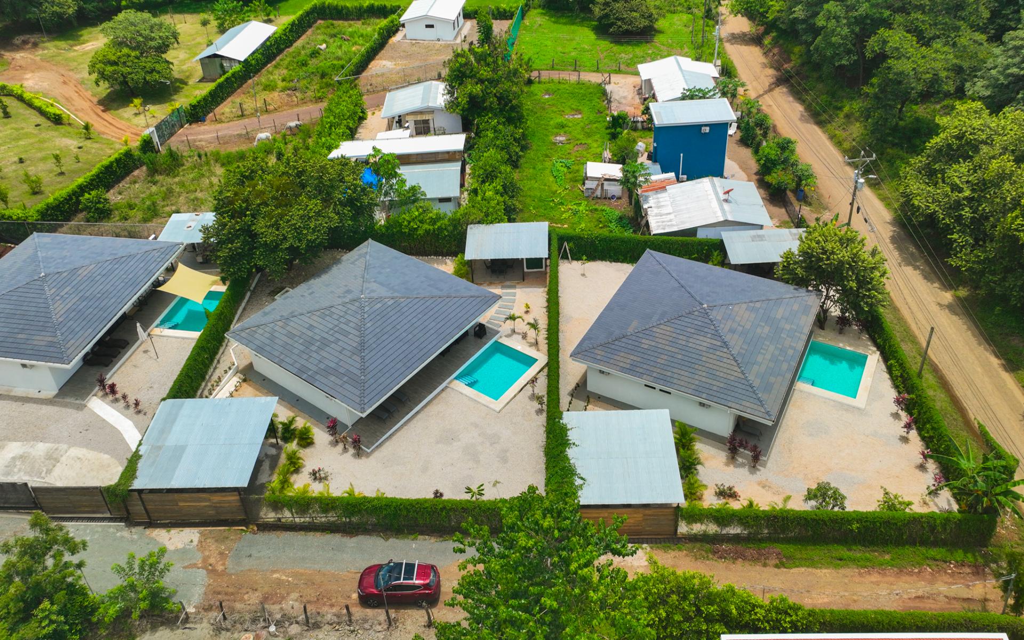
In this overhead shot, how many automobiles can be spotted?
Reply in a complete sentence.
The picture shows 1 automobile.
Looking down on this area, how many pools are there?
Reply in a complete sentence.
Looking from above, you can make out 3 pools.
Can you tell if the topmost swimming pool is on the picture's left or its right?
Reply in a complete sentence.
The topmost swimming pool is on the left side of the image.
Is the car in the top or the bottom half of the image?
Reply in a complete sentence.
Seen from above, the car lies in the bottom half of the view.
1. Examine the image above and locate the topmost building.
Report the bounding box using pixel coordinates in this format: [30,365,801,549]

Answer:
[399,0,465,38]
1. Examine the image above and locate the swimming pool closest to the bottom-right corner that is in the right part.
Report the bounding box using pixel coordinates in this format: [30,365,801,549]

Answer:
[798,334,878,408]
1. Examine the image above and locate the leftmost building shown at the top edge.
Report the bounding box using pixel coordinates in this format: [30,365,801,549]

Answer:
[193,20,278,81]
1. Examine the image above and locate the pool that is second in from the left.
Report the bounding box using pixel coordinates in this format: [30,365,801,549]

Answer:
[446,336,548,411]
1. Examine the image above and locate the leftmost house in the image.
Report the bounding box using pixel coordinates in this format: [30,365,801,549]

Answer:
[0,228,183,403]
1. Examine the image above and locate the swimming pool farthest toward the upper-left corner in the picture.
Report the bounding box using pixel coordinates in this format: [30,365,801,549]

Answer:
[150,285,234,338]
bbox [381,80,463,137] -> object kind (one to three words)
house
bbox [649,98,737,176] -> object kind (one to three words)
building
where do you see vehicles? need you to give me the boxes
[356,559,440,605]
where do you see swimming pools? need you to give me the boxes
[150,285,234,338]
[798,334,878,408]
[446,336,548,411]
